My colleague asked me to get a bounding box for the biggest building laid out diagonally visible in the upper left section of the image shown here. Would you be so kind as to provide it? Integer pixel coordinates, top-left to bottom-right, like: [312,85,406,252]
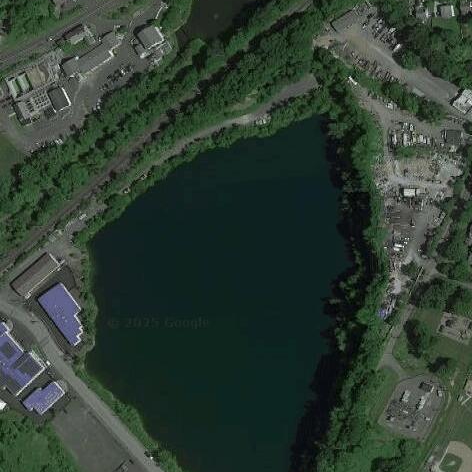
[63,32,126,76]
